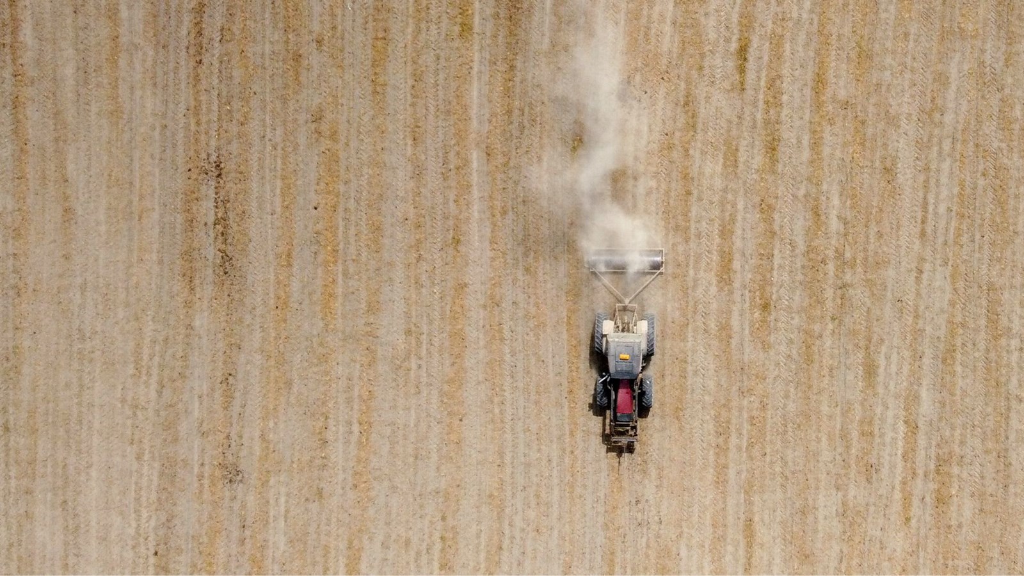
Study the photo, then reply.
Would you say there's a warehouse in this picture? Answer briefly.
No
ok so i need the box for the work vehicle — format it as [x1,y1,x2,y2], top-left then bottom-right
[595,304,655,462]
